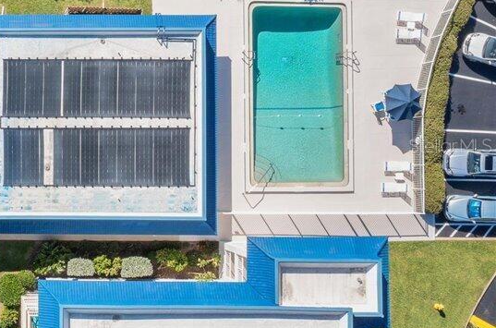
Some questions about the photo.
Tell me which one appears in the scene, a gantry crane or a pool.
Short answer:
pool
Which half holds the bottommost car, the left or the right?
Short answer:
right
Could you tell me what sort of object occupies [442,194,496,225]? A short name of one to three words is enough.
car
